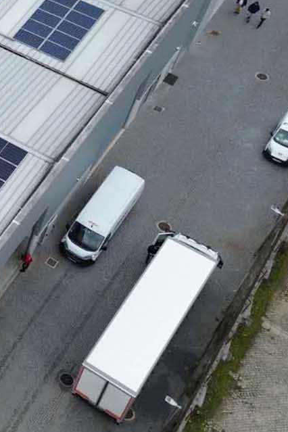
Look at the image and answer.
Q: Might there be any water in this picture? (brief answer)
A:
No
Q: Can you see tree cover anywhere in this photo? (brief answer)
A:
No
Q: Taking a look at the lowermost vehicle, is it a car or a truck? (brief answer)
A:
truck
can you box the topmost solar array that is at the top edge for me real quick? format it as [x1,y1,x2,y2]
[14,0,103,62]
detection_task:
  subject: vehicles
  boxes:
[65,230,222,427]
[61,166,146,272]
[264,114,288,170]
